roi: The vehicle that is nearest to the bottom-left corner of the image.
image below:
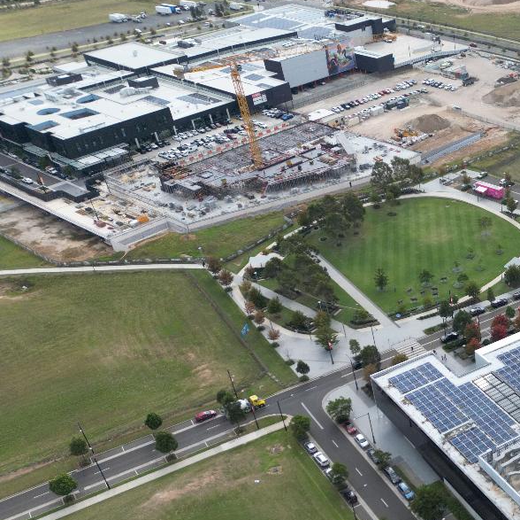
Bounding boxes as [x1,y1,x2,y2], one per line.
[195,410,217,423]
